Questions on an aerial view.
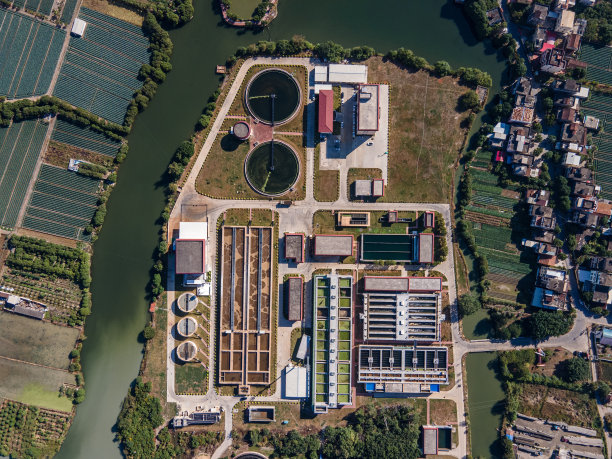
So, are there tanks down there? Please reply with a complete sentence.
Yes, the picture does show a tank.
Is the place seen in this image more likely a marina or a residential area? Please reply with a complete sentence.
The picture captures a residential area.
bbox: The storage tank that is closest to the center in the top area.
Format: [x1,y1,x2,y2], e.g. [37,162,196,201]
[244,139,301,197]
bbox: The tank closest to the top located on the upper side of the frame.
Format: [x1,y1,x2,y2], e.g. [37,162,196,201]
[245,68,301,126]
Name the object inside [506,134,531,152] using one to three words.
house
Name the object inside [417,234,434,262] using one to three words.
building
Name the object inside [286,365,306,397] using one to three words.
shed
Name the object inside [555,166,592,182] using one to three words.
house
